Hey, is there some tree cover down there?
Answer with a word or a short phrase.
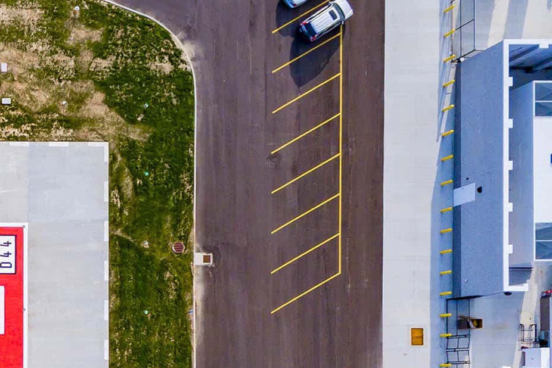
No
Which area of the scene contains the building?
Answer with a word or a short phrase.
right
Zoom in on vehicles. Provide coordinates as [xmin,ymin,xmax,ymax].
[294,0,356,43]
[283,0,307,8]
